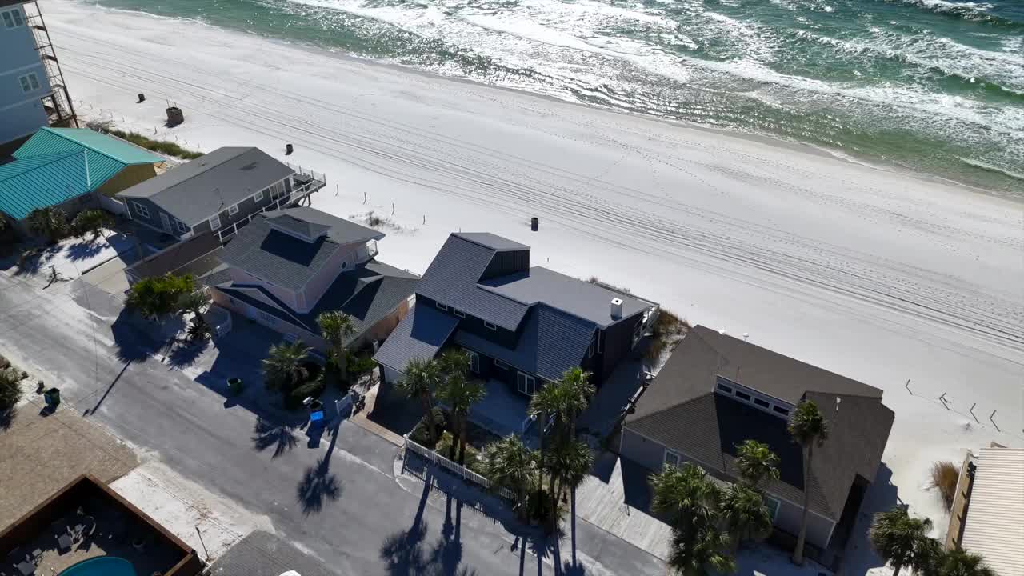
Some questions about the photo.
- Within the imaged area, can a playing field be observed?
No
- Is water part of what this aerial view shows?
Yes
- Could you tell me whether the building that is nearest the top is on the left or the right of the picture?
left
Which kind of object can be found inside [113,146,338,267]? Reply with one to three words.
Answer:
house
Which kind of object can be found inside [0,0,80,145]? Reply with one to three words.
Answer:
building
